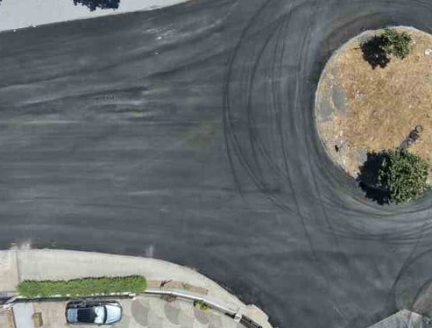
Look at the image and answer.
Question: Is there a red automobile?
No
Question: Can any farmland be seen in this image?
No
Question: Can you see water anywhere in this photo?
No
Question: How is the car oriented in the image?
from side to side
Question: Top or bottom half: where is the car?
bottom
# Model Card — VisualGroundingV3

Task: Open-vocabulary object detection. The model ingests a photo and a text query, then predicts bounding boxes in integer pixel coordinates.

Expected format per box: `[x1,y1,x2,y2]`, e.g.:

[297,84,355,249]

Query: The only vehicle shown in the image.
[65,297,124,327]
